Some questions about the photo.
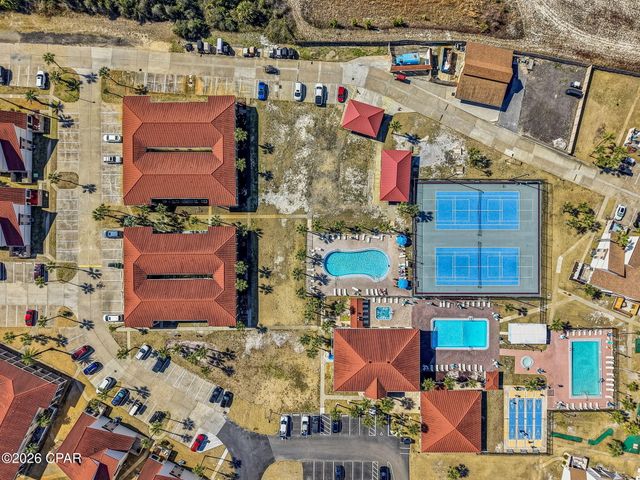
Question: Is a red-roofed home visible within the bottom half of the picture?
Yes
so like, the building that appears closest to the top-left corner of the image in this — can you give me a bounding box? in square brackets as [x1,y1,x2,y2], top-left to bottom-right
[0,107,48,184]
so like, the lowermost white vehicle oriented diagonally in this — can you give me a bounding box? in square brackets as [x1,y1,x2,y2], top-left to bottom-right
[128,400,142,417]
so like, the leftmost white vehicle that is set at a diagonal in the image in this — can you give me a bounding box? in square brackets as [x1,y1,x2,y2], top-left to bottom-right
[95,376,112,391]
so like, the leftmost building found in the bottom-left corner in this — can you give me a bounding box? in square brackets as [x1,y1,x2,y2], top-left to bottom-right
[0,343,74,480]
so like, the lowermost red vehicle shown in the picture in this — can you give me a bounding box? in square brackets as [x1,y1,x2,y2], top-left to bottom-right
[191,433,204,451]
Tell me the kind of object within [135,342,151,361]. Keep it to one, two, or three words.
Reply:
vehicle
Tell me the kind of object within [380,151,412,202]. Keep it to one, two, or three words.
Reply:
building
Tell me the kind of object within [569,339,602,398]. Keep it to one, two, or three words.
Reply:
swimming pool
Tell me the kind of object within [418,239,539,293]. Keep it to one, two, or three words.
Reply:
tennis court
